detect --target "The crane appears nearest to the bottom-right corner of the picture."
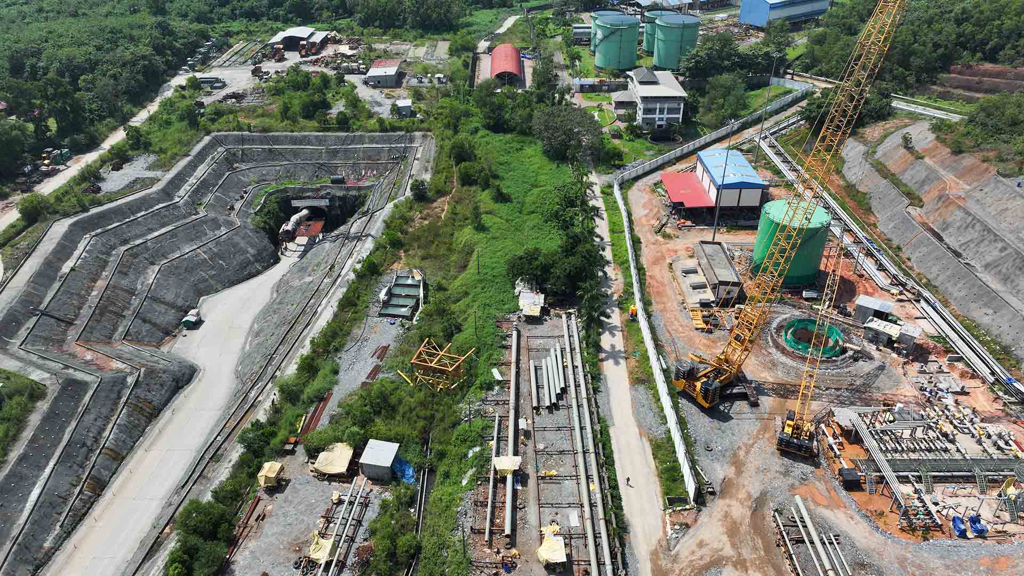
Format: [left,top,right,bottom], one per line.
[778,241,835,457]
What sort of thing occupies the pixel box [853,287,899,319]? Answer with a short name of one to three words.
shed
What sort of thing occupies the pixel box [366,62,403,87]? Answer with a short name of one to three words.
building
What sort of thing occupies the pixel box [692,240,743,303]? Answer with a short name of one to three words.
building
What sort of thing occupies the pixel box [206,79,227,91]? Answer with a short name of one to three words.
vehicle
